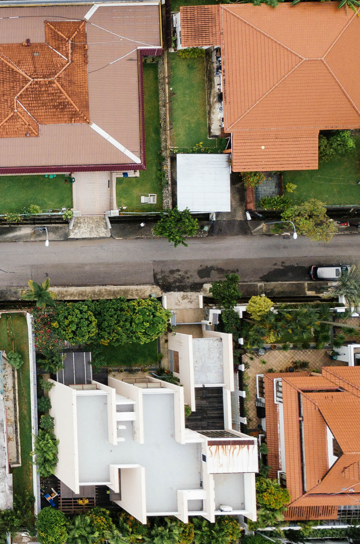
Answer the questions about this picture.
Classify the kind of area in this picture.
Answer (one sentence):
It's a residential area.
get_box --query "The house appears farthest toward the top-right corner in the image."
[169,1,360,172]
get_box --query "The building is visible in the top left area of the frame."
[0,1,163,175]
